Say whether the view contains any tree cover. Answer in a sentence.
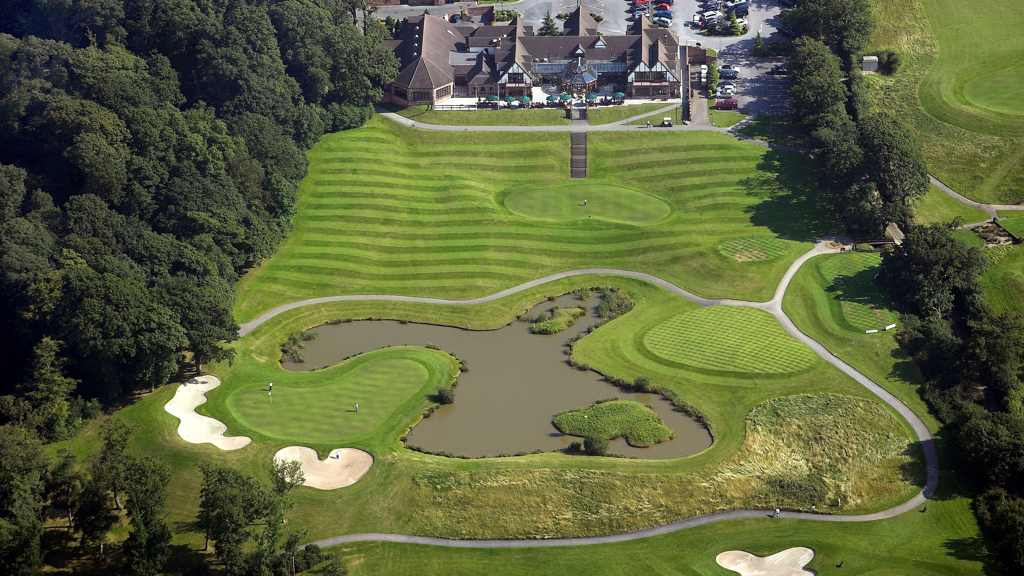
Yes, there's tree cover in this view.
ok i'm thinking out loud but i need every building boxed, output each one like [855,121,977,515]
[862,55,877,69]
[382,5,684,103]
[370,0,477,6]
